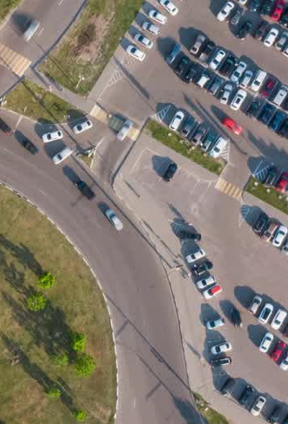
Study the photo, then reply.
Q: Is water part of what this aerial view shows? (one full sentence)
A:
No, water can't be seen anywhere here.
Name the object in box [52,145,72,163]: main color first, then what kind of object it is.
white car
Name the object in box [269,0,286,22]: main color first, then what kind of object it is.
red car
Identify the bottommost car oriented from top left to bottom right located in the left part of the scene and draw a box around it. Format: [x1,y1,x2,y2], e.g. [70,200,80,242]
[104,208,121,227]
